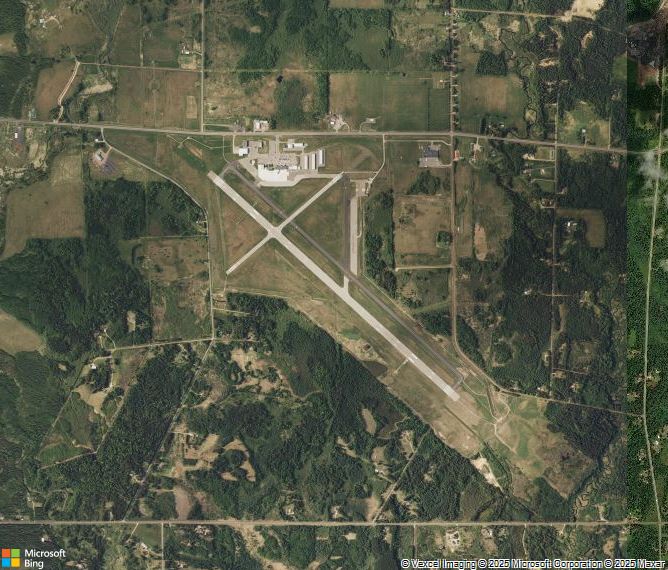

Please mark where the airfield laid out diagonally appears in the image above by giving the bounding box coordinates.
[192,135,592,500]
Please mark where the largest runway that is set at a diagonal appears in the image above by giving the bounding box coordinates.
[207,171,460,400]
